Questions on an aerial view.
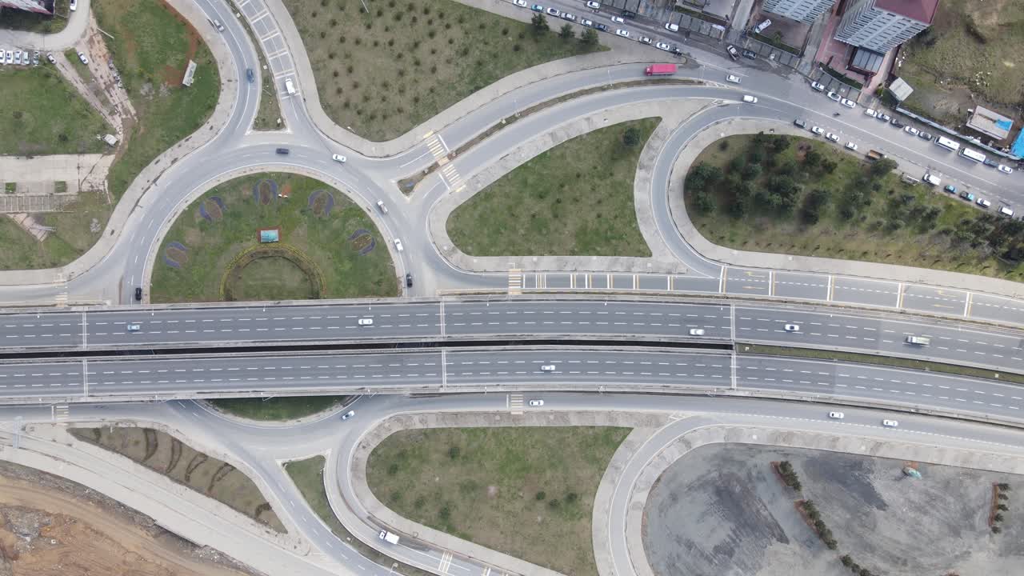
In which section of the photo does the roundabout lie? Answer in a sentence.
The roundabout is located in the left region of the scene.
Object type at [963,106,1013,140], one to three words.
shed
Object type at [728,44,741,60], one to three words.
vehicle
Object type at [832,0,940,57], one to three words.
building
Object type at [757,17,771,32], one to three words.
vehicle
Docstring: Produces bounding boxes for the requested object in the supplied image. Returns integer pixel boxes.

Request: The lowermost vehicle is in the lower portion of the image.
[378,531,400,546]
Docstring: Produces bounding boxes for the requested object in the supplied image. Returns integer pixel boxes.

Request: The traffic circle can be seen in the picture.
[112,134,436,458]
